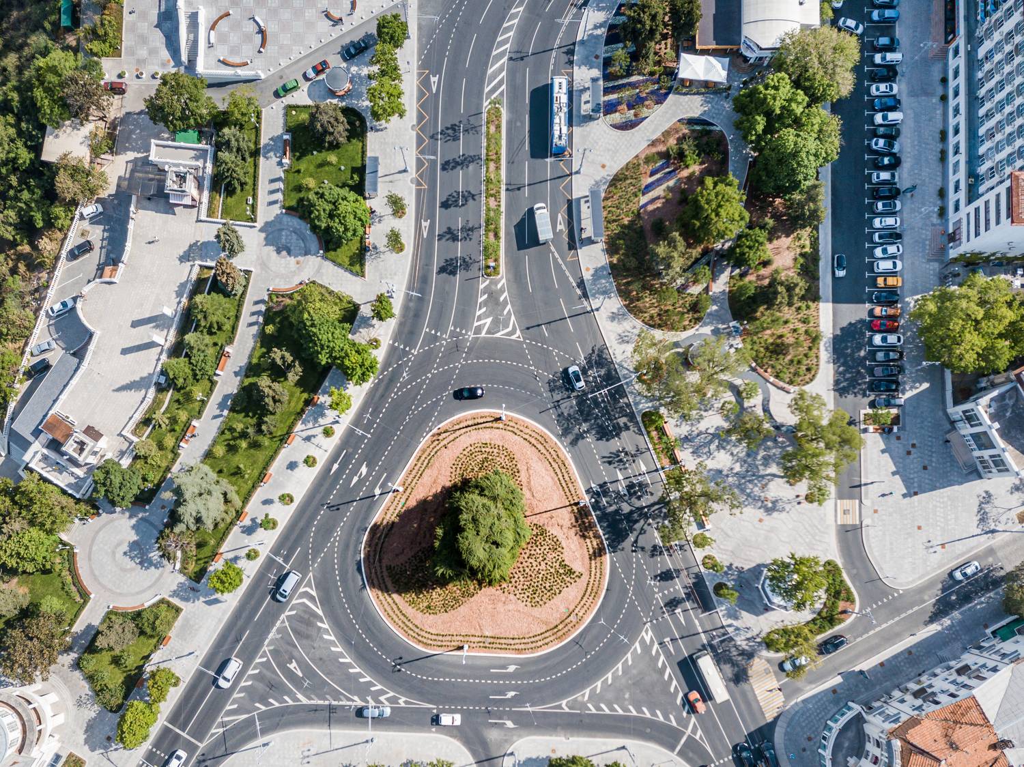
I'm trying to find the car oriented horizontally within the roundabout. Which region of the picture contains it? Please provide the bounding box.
[455,387,484,400]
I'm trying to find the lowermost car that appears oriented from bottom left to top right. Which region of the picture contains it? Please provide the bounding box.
[165,743,187,767]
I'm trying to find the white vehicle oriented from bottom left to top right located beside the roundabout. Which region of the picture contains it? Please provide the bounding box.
[274,569,301,602]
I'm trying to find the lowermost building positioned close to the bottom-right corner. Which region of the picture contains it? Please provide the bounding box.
[816,610,1024,767]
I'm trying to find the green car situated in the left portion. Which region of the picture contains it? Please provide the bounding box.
[276,78,302,97]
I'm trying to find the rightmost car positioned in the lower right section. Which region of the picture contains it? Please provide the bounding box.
[952,561,982,581]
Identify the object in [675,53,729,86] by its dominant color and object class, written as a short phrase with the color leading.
white tent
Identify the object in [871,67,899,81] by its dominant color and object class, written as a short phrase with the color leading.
black car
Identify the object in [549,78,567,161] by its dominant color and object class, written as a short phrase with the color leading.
white vehicle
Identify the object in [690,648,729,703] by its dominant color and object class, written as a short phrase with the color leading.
white bus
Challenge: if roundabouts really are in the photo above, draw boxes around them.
[315,343,648,707]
